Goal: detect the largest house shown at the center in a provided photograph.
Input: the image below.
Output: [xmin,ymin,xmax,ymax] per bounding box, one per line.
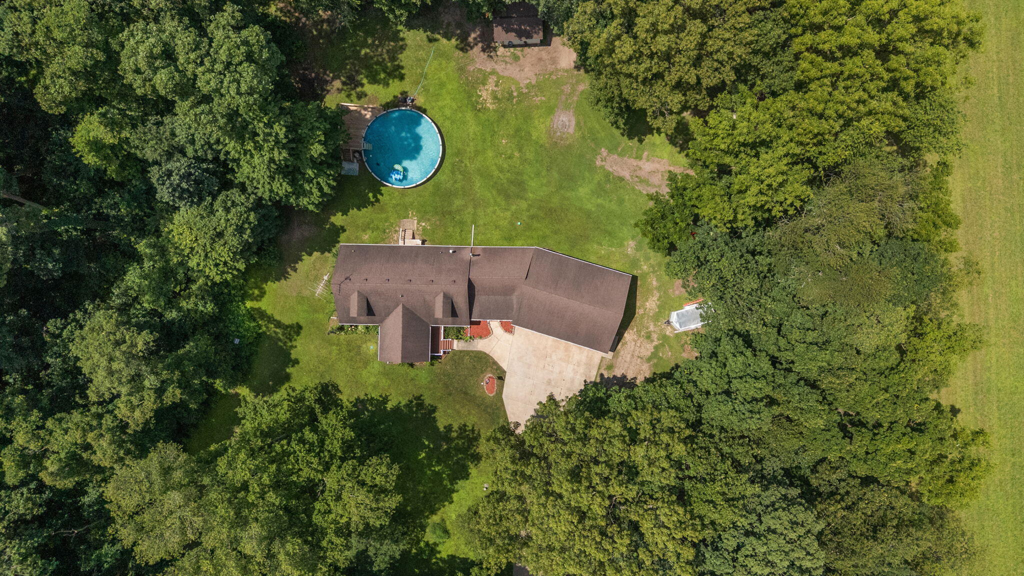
[331,244,632,364]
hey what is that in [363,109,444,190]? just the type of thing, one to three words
swimming pool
